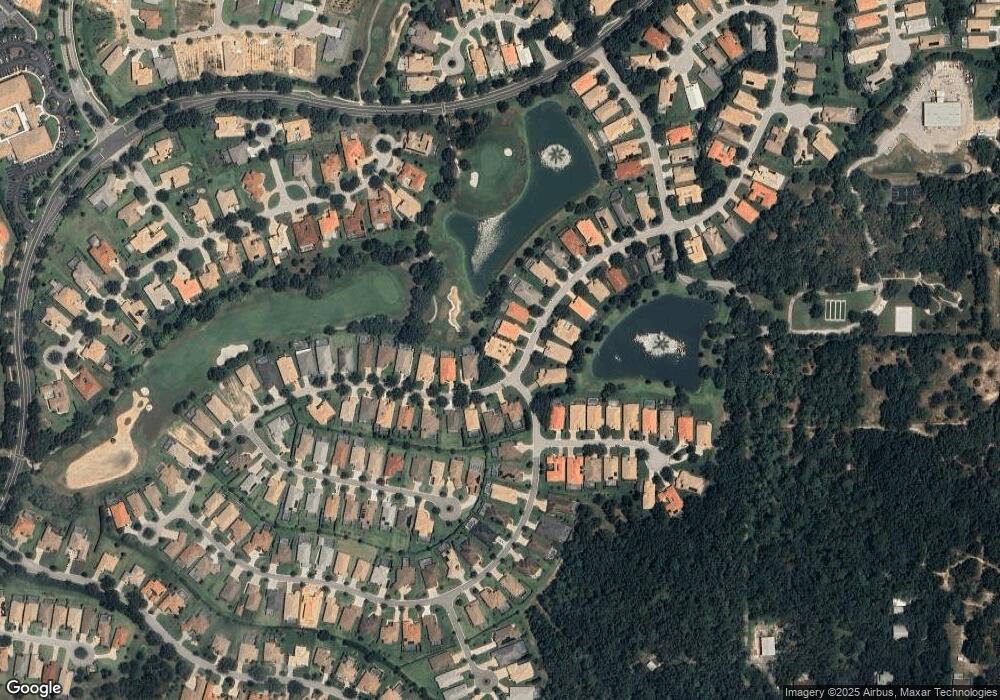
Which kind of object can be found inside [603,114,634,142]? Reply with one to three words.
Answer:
house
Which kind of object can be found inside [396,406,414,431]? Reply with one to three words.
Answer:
house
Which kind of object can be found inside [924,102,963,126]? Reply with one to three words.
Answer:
building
